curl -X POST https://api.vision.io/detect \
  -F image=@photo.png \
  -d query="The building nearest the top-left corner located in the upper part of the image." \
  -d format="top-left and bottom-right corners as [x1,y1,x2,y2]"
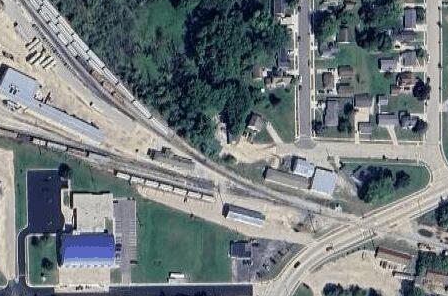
[0,67,37,104]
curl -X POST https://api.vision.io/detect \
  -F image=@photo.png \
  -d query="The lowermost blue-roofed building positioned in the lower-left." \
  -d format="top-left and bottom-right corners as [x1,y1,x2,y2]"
[61,232,116,268]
